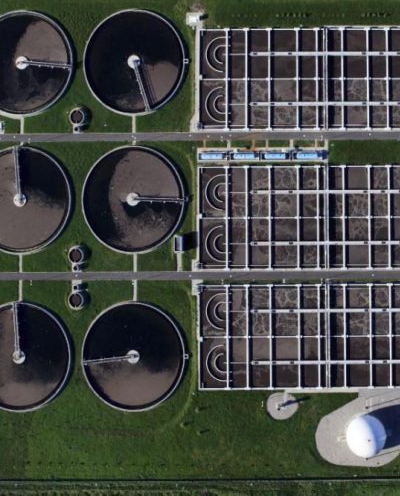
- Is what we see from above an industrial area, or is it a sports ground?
industrial area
